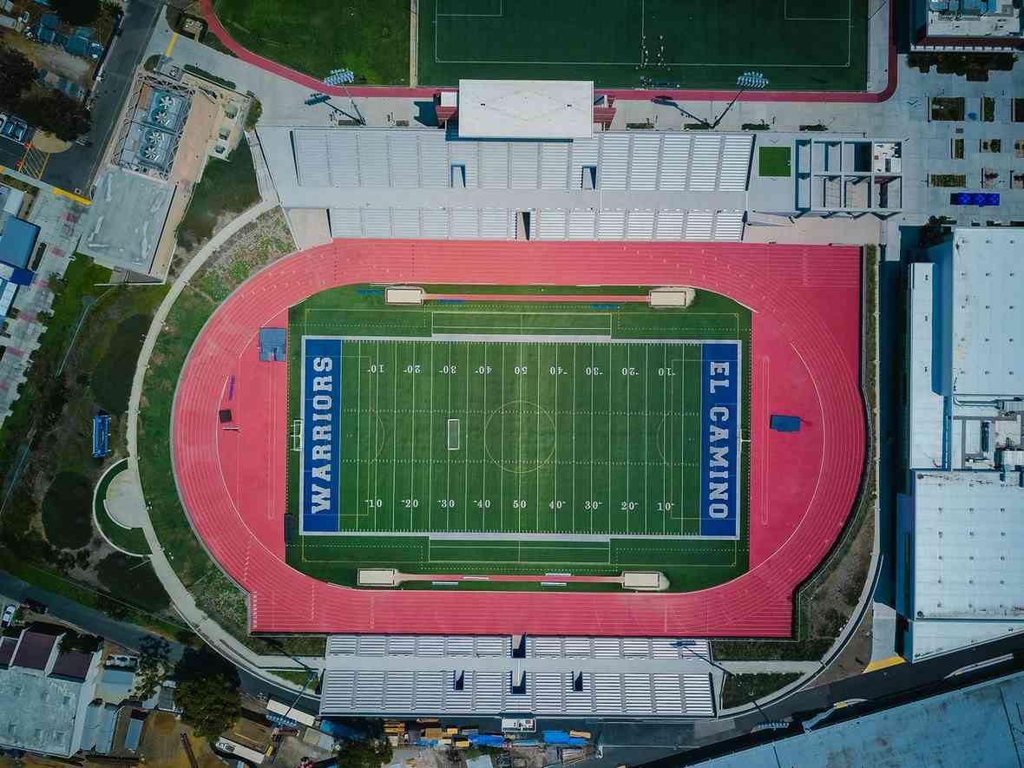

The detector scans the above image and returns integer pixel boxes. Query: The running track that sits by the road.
[168,238,869,639]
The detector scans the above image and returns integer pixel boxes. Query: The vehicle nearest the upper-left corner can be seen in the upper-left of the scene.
[17,6,32,25]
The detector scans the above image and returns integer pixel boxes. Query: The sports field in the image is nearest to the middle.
[288,284,753,592]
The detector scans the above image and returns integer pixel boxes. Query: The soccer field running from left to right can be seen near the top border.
[418,0,867,91]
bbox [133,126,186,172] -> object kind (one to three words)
cooling tower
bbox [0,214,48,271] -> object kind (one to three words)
building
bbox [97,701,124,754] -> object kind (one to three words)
shed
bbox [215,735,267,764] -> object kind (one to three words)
trailer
